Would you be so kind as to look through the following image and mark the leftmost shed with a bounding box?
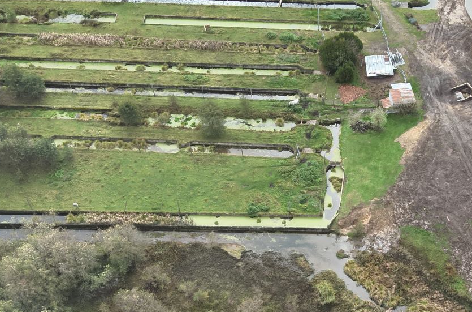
[365,55,393,82]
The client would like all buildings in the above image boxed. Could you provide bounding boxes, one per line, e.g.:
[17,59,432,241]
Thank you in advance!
[382,82,415,115]
[365,55,393,82]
